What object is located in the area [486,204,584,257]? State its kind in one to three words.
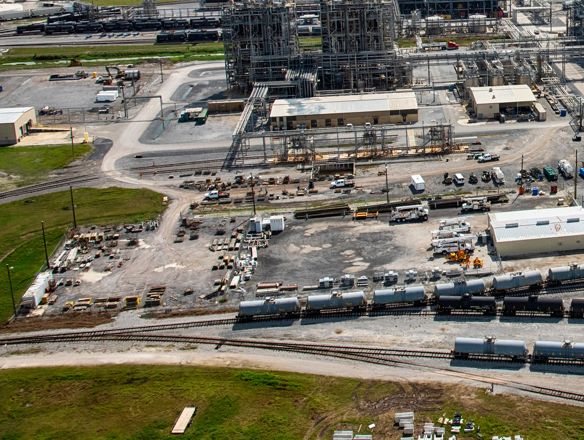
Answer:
shed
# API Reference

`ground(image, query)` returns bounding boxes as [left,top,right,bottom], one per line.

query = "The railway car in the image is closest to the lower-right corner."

[528,329,584,364]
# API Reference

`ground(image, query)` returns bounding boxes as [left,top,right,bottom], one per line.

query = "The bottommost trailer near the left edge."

[15,262,58,300]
